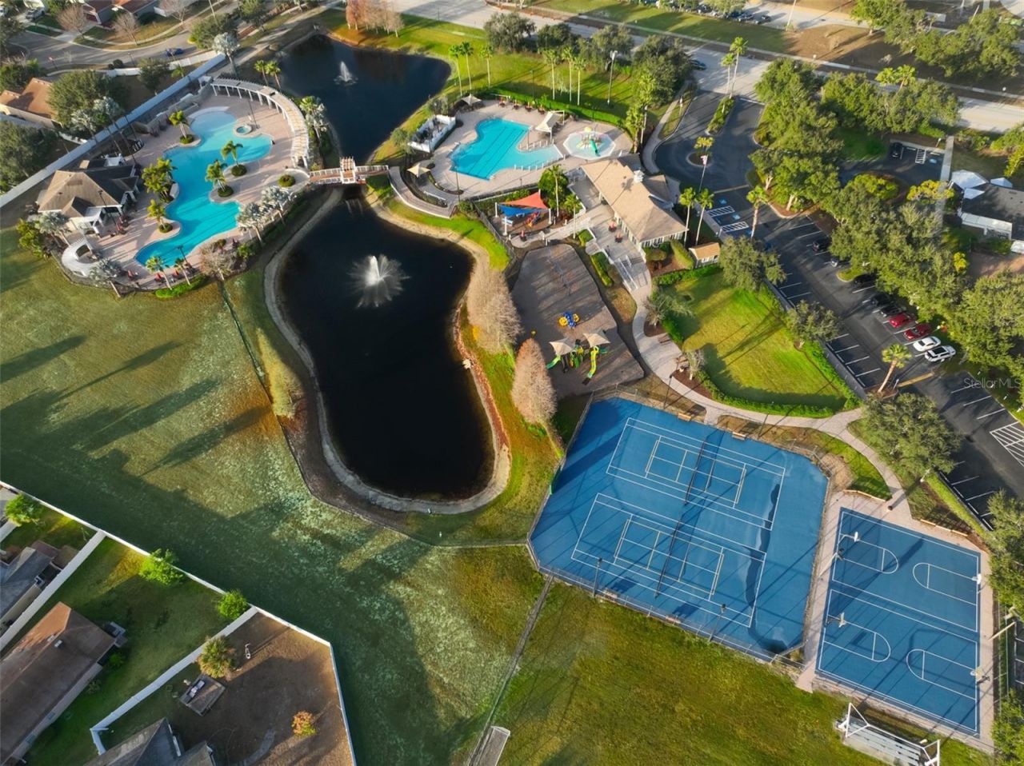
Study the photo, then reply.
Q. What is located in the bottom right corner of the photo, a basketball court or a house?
basketball court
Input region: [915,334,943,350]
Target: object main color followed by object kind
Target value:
white car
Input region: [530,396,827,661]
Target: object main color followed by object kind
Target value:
blue tennis court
